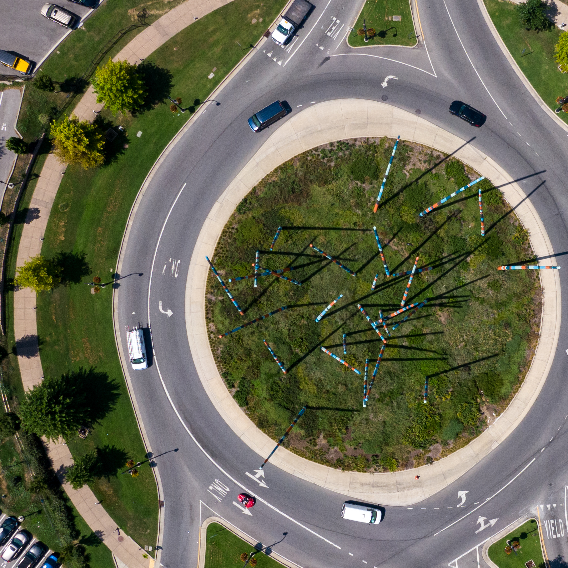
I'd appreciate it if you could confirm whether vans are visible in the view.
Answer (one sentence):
Yes, the frame does contain a van.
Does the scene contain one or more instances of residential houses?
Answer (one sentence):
No, the picture doesn't show any residential house.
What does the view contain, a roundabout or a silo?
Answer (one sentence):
I can see a roundabout in this picture.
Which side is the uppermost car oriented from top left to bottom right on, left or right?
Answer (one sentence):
You can find the uppermost car oriented from top left to bottom right on the left side of the picture.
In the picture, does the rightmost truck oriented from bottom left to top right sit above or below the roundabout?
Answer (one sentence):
Looking at the photo, you'll find the rightmost truck oriented from bottom left to top right above the roundabout.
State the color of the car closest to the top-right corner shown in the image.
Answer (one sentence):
The car closest to the top-right corner is black.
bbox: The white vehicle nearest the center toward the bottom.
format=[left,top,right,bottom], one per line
[126,322,148,370]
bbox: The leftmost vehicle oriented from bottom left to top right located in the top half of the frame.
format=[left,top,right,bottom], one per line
[248,99,288,132]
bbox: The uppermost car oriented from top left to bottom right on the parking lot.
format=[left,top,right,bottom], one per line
[41,2,76,31]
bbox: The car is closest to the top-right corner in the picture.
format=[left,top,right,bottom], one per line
[450,103,485,127]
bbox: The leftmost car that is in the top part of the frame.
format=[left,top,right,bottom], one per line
[0,49,32,76]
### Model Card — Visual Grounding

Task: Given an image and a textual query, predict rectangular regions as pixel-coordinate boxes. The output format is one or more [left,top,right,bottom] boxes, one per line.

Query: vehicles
[273,0,315,44]
[0,516,19,549]
[238,493,257,510]
[67,0,98,9]
[1,530,32,565]
[0,49,32,76]
[41,2,76,31]
[248,99,288,132]
[340,502,383,523]
[18,540,50,568]
[450,103,485,127]
[126,322,148,370]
